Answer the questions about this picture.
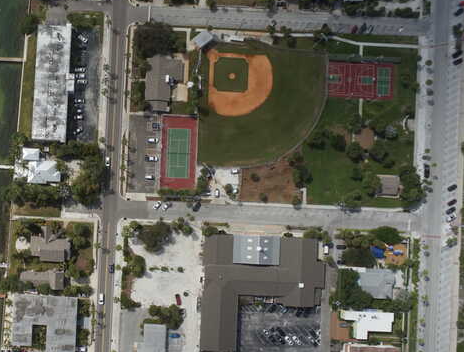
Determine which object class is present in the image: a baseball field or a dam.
baseball field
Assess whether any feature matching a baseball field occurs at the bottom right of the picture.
No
